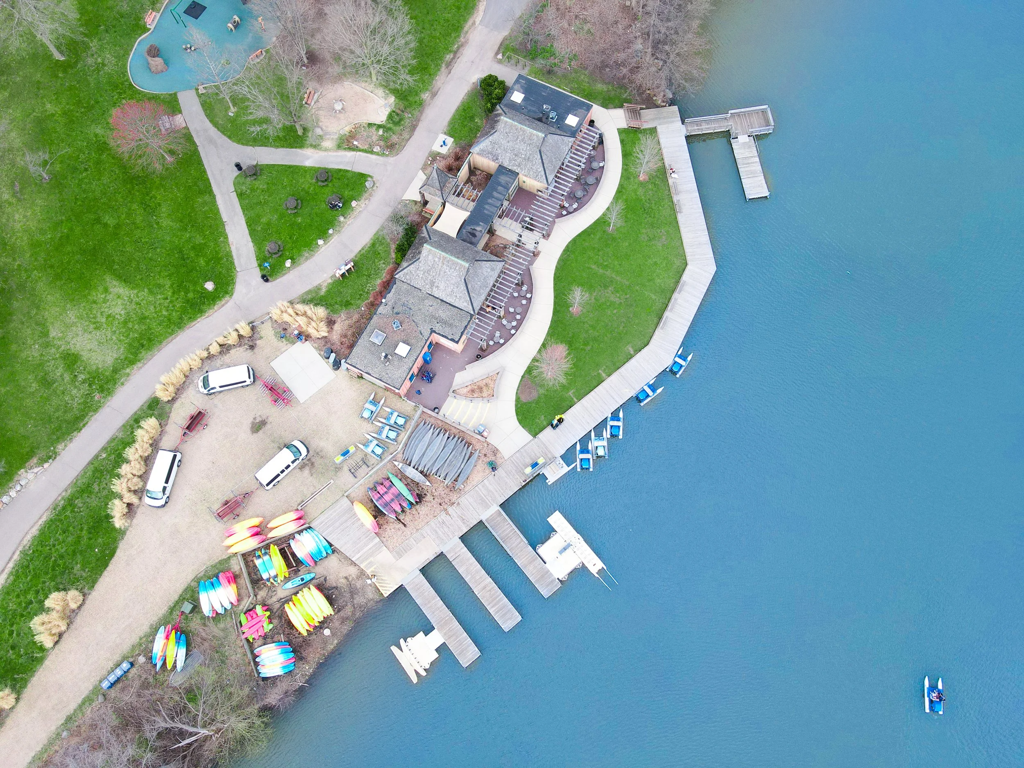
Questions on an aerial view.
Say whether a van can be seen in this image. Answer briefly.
Yes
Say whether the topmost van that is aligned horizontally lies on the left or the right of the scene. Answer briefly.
left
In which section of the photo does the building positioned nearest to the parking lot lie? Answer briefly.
center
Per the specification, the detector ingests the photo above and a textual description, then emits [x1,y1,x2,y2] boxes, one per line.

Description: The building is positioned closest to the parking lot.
[346,224,505,397]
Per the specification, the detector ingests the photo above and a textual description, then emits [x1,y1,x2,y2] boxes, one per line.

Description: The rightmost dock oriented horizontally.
[680,105,777,140]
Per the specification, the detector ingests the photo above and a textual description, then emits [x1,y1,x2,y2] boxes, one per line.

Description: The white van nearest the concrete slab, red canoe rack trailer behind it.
[199,365,259,397]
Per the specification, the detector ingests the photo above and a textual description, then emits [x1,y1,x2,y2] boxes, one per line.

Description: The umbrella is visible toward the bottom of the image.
[484,456,498,470]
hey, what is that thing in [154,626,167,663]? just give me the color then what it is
white boat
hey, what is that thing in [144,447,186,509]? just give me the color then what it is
white van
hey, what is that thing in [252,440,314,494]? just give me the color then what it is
white van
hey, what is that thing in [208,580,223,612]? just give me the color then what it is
white boat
